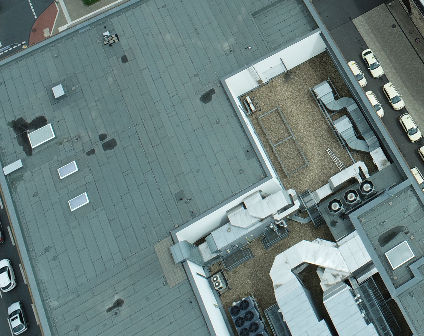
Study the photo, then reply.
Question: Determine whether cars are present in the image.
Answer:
Yes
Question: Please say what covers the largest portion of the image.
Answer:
buildings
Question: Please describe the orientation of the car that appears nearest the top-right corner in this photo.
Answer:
diagonally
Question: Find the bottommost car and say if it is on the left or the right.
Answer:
left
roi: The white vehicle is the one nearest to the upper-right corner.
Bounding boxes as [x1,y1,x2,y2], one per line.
[361,50,384,78]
